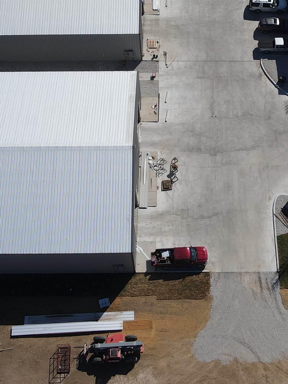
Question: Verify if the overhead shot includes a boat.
No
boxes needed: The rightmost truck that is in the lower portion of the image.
[150,243,210,270]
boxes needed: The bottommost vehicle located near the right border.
[256,38,288,56]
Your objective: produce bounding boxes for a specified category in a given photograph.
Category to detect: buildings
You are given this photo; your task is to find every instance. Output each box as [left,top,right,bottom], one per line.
[0,69,141,274]
[0,0,144,62]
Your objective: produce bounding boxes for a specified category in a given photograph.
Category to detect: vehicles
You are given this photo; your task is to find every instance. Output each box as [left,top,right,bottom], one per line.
[256,17,288,38]
[72,334,144,368]
[256,38,288,56]
[150,243,210,270]
[247,0,288,15]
